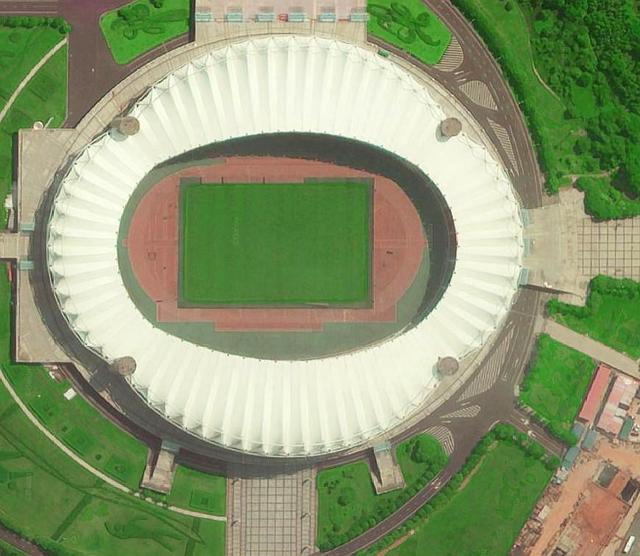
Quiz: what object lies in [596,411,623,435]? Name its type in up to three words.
shed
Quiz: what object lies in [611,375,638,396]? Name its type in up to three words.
shed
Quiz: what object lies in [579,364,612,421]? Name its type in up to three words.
building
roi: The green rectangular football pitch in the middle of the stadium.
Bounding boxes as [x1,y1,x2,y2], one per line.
[178,177,374,309]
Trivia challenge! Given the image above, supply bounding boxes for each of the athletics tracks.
[121,157,425,332]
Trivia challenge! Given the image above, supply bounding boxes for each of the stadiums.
[47,34,523,456]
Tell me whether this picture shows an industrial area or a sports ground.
sports ground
